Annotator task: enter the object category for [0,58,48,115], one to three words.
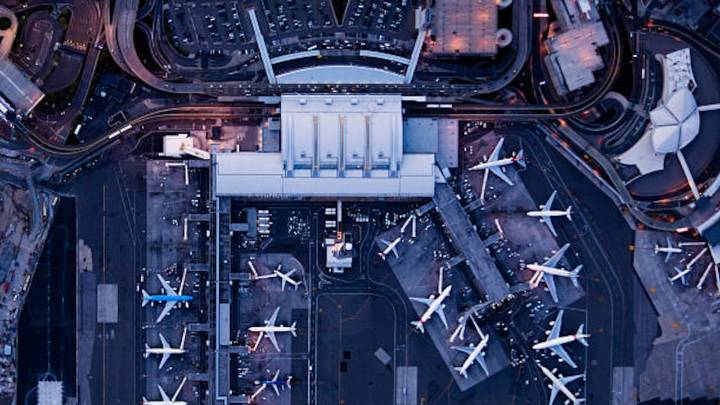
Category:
building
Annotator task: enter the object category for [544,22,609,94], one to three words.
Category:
building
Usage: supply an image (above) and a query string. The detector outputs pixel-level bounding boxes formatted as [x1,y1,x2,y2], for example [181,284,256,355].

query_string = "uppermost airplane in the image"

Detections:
[469,138,526,184]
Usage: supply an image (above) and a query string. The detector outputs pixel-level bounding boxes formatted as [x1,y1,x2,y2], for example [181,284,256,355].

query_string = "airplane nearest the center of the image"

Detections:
[380,237,402,259]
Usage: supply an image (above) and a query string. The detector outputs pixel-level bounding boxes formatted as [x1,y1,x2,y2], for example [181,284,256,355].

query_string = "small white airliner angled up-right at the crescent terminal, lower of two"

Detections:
[669,267,690,284]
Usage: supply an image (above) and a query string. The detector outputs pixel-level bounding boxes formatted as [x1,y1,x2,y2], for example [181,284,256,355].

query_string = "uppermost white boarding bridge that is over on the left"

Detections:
[165,162,189,186]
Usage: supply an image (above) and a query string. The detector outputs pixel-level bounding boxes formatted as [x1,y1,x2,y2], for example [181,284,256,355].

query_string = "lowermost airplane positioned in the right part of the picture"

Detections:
[540,364,590,405]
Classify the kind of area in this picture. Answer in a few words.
airport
